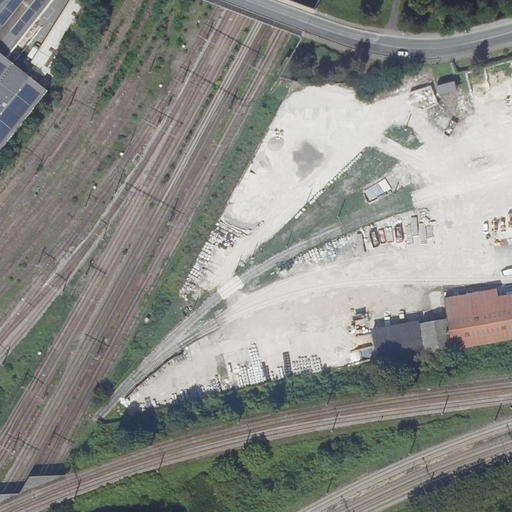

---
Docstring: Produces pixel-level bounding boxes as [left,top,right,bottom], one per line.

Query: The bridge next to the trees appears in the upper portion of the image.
[202,0,320,41]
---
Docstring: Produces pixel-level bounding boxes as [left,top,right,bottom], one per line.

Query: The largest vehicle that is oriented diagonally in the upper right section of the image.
[444,116,460,136]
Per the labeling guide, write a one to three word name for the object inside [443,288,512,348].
building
